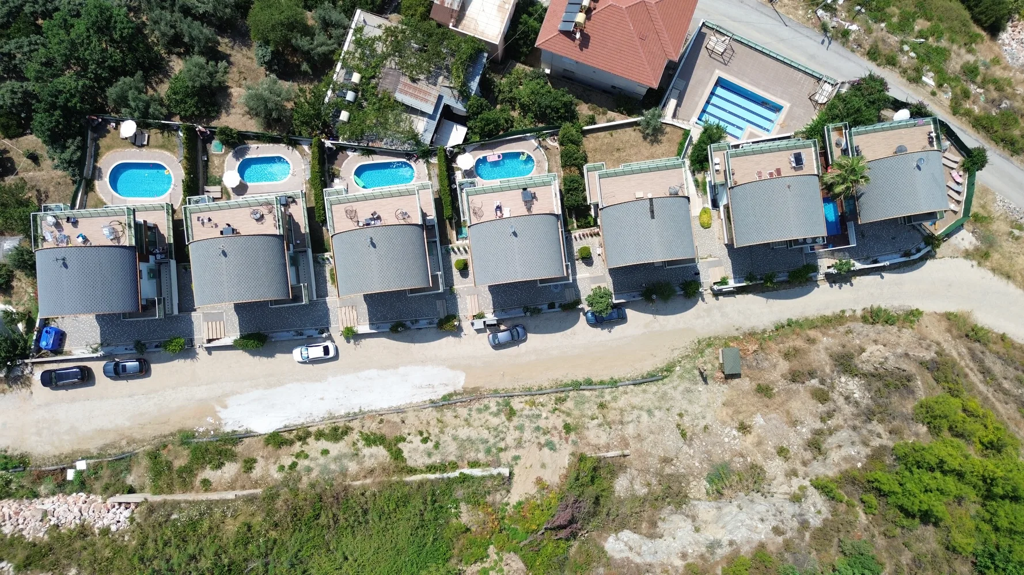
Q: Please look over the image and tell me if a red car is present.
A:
No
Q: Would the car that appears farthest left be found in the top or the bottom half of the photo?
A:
bottom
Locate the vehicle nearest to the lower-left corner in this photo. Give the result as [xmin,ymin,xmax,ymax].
[41,365,90,389]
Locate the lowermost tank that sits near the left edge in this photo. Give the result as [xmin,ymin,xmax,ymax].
[37,326,70,351]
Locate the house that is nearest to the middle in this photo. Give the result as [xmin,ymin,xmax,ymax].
[456,172,573,290]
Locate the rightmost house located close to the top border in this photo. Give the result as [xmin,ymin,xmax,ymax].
[534,0,697,106]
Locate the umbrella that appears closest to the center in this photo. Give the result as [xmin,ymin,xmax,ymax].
[454,151,478,174]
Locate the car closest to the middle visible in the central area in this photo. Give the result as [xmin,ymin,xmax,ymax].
[487,324,528,349]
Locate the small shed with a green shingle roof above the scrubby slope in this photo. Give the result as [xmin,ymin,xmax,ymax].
[716,347,742,376]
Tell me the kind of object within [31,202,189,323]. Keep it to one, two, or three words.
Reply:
house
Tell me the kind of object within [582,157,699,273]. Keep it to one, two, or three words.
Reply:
house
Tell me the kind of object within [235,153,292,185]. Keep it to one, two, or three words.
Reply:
swimming pool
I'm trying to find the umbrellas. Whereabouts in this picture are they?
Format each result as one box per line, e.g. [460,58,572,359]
[454,151,478,174]
[118,120,141,140]
[222,169,245,190]
[888,108,910,124]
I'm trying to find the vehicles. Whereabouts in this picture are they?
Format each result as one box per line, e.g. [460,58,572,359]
[584,304,628,327]
[487,324,528,349]
[293,341,338,364]
[41,365,90,389]
[104,358,151,379]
